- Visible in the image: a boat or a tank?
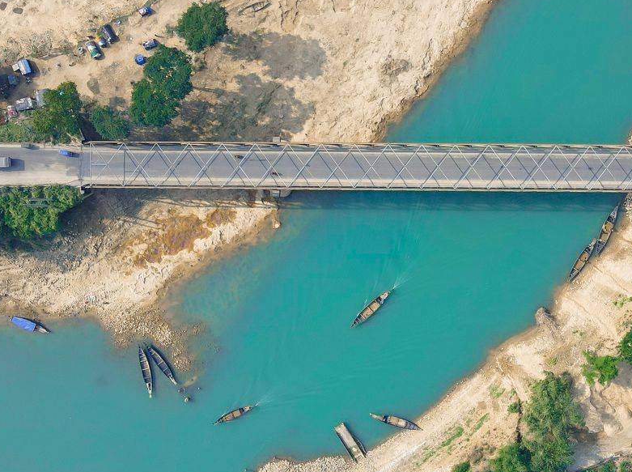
boat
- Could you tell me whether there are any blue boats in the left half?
Yes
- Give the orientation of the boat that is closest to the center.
on a diagonal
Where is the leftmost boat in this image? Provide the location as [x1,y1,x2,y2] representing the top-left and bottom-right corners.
[8,317,49,333]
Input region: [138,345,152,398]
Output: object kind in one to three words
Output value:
boat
